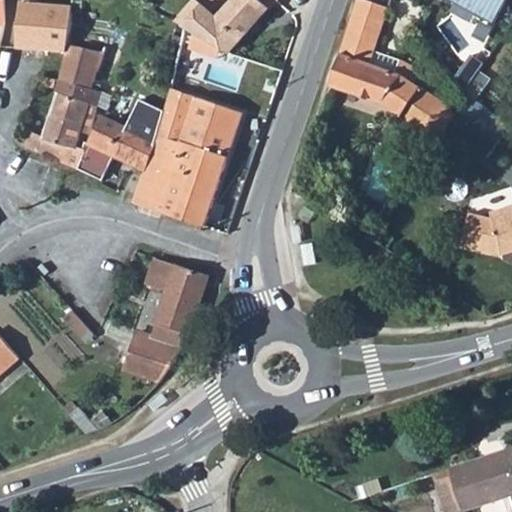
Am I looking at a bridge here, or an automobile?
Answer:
automobile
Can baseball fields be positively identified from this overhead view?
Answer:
No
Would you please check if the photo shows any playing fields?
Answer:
No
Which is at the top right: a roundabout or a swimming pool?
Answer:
swimming pool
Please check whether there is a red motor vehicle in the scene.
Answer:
No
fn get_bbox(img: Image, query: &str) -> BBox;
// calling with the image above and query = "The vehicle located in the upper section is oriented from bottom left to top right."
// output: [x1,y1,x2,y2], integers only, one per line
[5,154,22,175]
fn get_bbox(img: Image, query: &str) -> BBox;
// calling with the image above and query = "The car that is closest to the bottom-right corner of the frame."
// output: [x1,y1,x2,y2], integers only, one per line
[457,353,480,365]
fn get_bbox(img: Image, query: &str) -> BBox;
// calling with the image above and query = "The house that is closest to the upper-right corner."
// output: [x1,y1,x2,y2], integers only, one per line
[450,0,506,42]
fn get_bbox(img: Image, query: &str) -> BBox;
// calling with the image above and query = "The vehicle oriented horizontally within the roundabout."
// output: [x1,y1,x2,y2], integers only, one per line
[302,388,334,403]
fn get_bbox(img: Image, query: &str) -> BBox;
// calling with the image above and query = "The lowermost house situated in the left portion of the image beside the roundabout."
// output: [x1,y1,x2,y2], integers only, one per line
[120,258,210,386]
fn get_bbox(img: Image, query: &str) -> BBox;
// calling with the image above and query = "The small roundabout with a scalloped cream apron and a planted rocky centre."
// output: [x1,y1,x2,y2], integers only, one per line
[222,304,343,430]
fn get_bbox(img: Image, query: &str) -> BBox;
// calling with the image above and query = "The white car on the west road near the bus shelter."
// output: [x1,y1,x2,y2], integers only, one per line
[166,410,188,428]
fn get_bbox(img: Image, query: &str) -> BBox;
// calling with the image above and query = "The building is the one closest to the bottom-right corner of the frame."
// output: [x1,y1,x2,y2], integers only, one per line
[433,438,512,512]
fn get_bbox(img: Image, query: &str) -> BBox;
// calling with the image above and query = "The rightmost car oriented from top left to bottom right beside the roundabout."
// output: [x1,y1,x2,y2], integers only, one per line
[270,289,288,310]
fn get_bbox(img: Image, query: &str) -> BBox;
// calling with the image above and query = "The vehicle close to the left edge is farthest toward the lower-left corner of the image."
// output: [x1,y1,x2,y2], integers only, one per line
[1,480,24,494]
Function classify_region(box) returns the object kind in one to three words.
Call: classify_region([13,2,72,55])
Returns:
house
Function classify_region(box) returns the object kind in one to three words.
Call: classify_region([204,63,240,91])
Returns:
swimming pool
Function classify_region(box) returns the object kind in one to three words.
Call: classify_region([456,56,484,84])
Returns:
building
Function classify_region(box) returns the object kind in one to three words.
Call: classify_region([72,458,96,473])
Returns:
car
